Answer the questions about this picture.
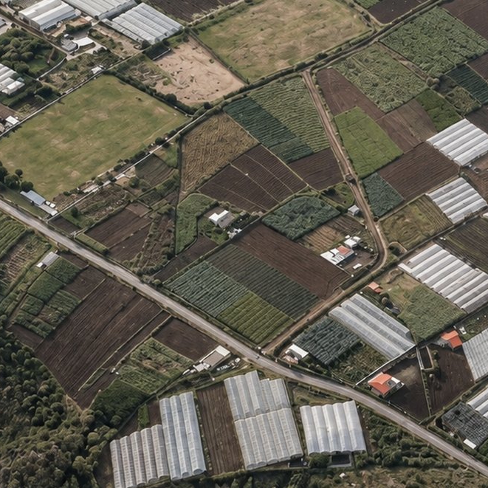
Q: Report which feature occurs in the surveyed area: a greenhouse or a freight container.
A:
greenhouse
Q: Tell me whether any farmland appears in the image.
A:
Yes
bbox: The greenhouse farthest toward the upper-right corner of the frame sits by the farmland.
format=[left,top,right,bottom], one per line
[428,119,488,168]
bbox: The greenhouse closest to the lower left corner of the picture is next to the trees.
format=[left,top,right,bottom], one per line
[111,427,168,488]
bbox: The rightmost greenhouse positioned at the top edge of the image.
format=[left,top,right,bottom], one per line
[103,3,183,47]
